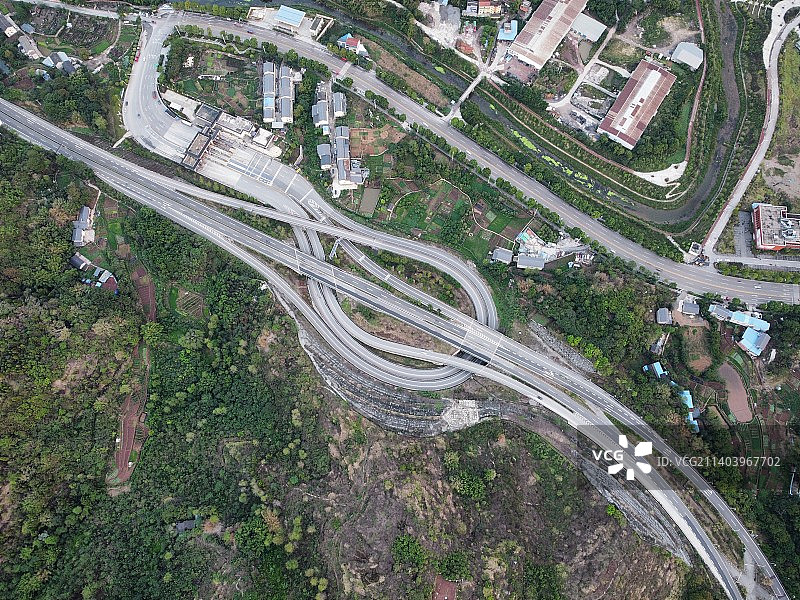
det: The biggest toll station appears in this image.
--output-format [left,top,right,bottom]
[123,14,328,229]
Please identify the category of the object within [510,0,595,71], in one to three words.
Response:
building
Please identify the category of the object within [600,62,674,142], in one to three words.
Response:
building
